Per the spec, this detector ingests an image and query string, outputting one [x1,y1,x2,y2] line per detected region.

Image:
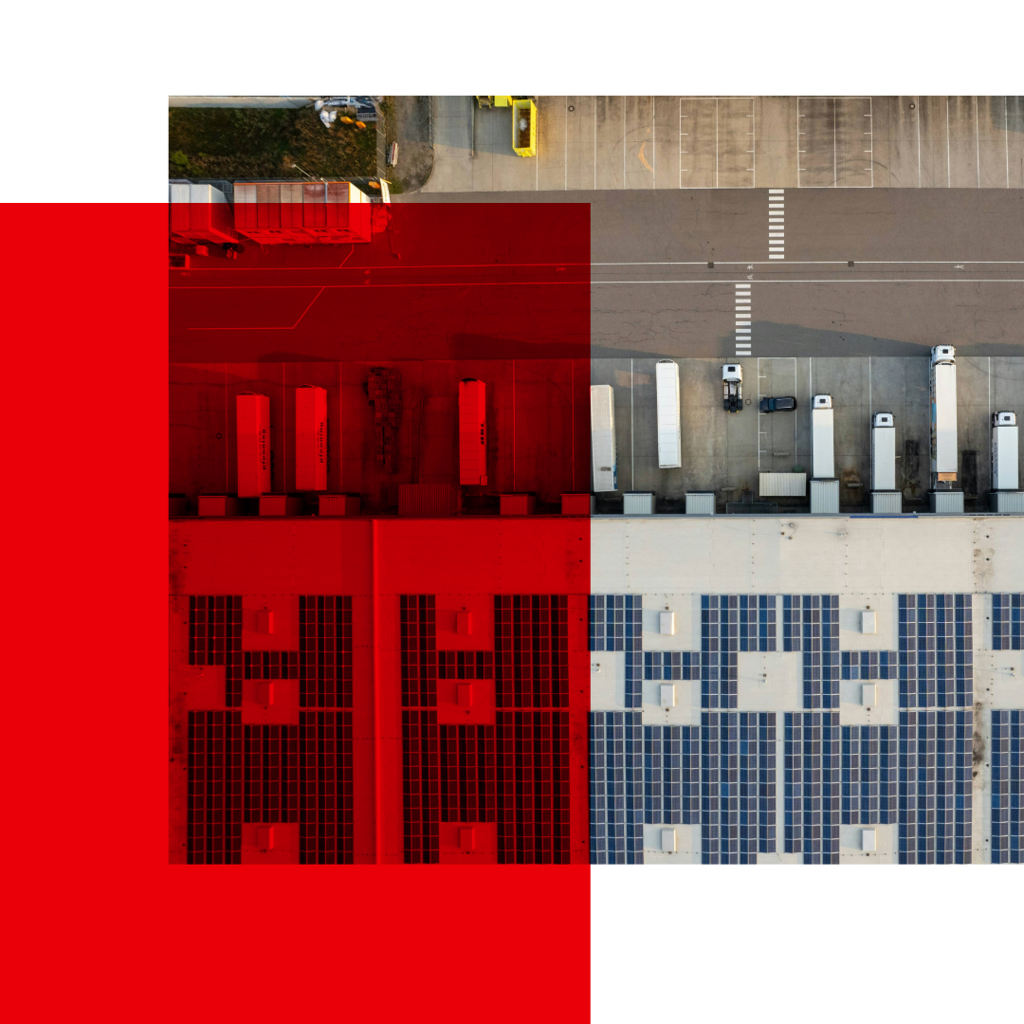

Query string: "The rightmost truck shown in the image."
[993,409,1019,489]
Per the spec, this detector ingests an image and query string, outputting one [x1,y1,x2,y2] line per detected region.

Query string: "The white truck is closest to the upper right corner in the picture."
[930,345,954,391]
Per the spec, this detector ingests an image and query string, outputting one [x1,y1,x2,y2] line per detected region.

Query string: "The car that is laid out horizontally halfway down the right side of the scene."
[759,395,797,413]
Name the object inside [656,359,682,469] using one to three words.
trailer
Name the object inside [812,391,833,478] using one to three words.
truck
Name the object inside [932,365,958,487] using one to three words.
trailer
